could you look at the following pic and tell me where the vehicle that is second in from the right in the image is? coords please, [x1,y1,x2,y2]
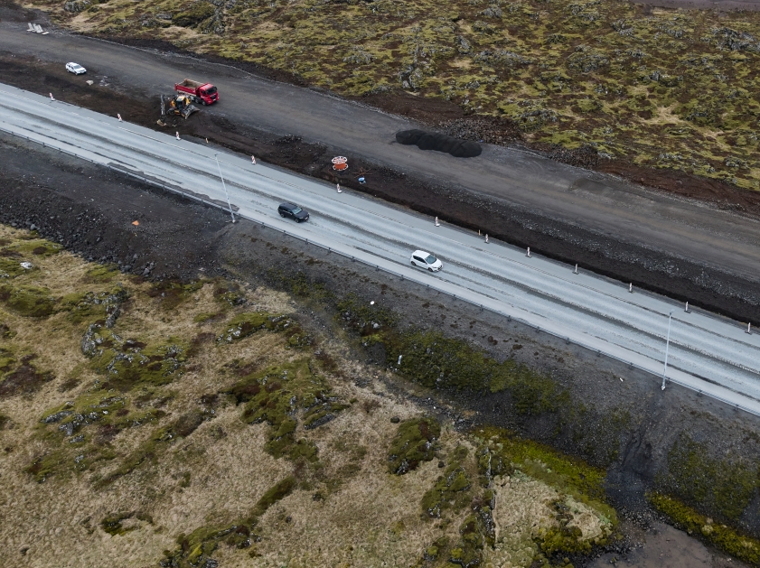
[276,201,311,222]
